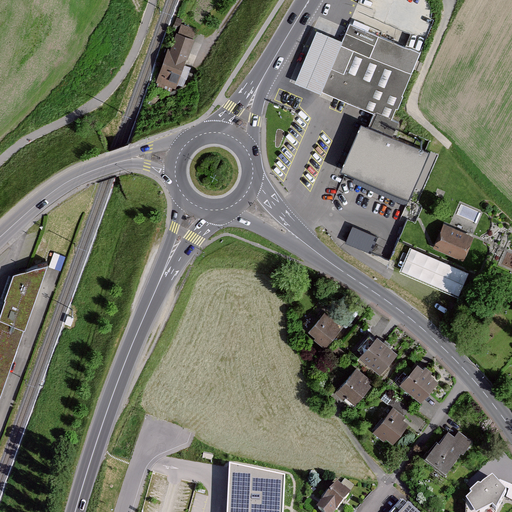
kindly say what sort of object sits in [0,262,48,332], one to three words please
building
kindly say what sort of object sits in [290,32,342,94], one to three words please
building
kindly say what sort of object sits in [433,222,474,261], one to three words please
house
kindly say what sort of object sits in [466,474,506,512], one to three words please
house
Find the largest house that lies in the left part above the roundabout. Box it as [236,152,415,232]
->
[157,34,194,90]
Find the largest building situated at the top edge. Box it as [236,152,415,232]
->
[322,24,421,119]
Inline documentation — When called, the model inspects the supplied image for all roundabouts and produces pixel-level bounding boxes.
[162,120,266,223]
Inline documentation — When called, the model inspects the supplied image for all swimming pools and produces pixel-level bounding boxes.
[451,202,482,233]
